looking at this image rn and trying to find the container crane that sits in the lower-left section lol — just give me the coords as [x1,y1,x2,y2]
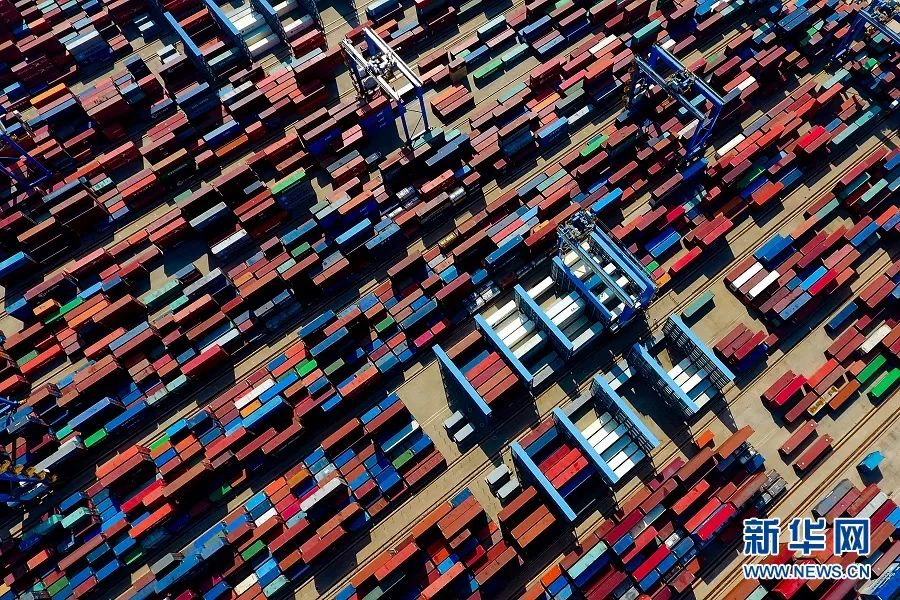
[0,441,62,517]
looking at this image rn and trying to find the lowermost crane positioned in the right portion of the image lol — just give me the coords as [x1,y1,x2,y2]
[550,205,662,332]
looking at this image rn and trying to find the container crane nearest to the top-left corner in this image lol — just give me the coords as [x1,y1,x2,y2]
[0,100,56,192]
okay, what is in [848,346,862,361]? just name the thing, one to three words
vehicle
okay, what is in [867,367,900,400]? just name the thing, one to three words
shipping container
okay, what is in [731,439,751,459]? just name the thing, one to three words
vehicle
